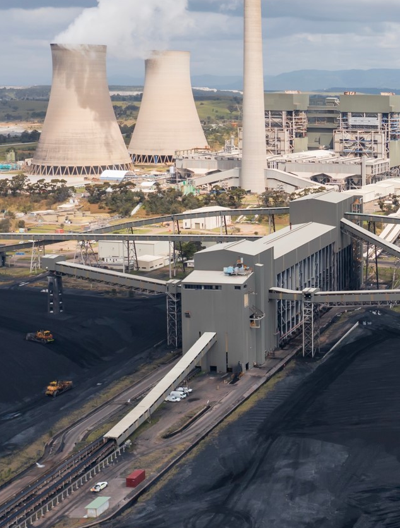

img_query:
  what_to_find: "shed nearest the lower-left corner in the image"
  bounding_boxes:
[82,498,113,517]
